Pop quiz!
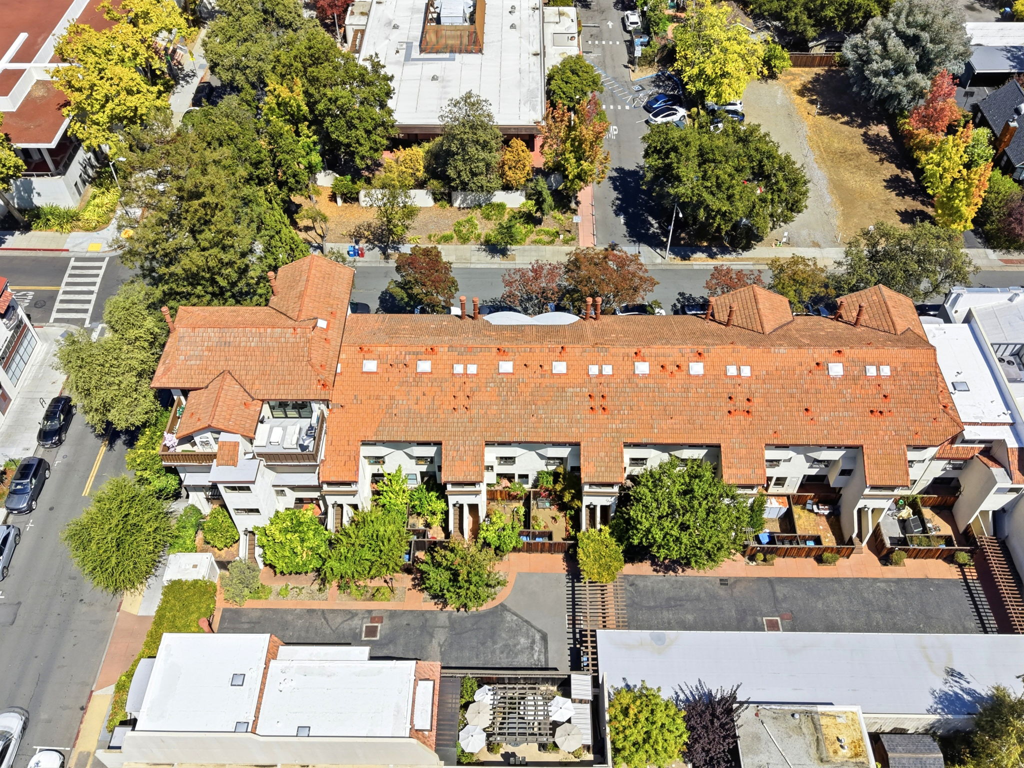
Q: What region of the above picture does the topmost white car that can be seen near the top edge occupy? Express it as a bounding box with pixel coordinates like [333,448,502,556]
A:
[624,12,641,30]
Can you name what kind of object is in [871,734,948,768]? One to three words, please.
shed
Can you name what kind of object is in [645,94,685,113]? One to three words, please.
car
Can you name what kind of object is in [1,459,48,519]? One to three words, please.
car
